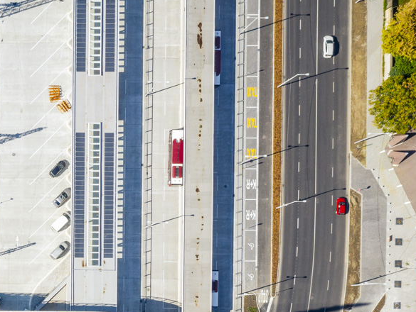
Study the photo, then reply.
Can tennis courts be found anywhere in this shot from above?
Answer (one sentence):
No, I find no tennis court anywhere in the image.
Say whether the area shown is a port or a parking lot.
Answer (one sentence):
This image shows a parking lot.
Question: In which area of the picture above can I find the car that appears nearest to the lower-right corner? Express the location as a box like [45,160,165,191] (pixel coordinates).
[336,197,348,217]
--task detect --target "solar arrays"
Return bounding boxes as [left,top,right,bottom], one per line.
[77,0,87,71]
[106,0,116,71]
[105,132,115,258]
[77,132,86,258]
